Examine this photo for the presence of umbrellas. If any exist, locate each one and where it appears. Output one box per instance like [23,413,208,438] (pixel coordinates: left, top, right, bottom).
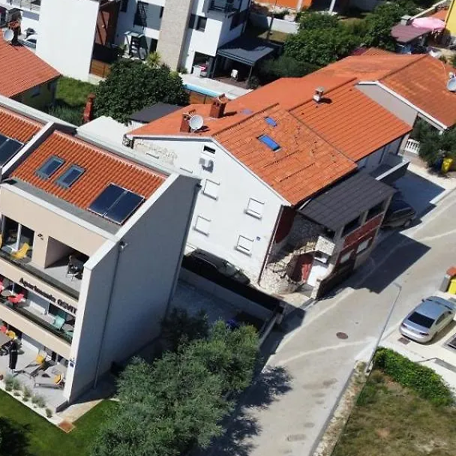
[404,15,452,42]
[8,333,20,374]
